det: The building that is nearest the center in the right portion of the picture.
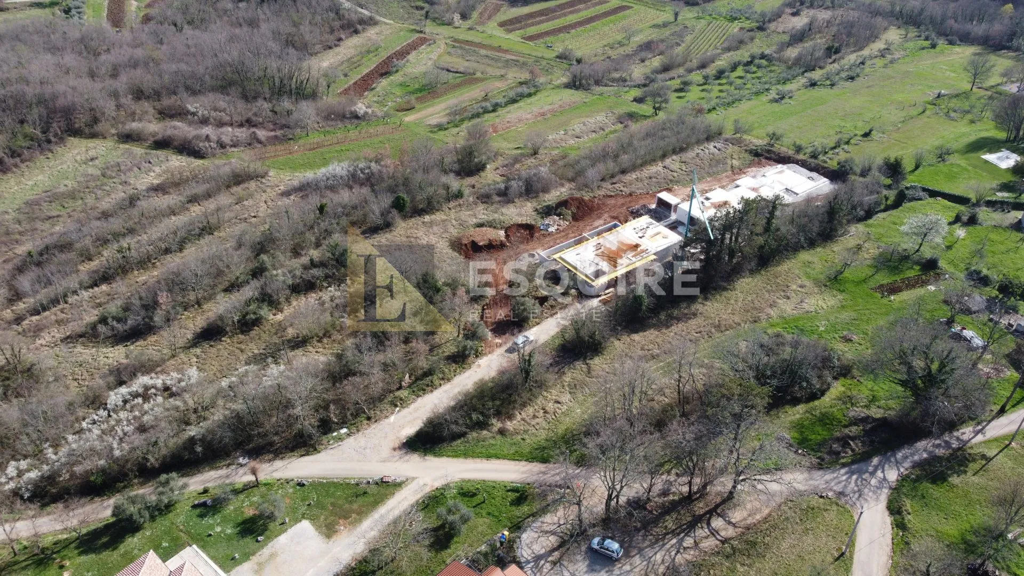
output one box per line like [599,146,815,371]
[554,217,684,295]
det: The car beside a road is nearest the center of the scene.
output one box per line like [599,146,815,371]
[511,331,535,349]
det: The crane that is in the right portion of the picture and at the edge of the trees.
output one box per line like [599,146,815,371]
[679,160,708,238]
